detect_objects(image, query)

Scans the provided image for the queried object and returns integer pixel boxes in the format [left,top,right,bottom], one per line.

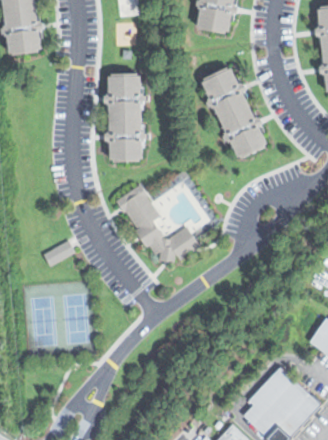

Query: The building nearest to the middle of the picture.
[118,184,198,264]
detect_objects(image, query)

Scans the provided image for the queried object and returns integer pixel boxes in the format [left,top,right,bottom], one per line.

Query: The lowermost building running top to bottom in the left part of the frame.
[105,74,146,162]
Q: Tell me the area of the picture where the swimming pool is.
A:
center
